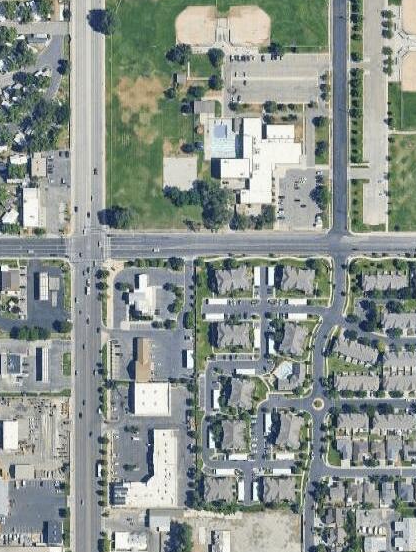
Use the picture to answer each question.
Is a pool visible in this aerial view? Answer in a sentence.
Yes, a pool appears in the view.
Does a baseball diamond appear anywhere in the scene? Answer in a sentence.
Yes, you can see a baseball diamond in this photo.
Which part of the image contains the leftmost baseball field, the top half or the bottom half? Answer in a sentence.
The leftmost baseball field sits in the top half of the picture.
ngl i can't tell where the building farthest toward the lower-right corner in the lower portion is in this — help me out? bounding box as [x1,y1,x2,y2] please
[400,518,416,552]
